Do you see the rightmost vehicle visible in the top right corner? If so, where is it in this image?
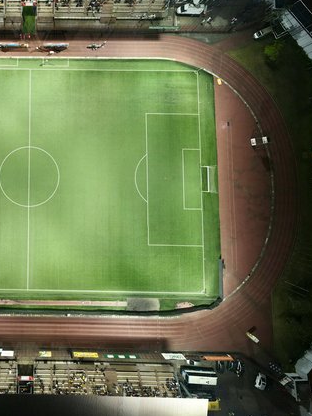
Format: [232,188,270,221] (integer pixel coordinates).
[255,29,274,41]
